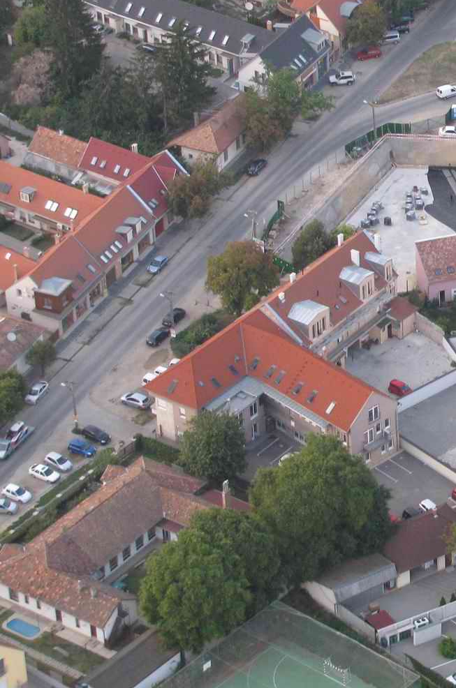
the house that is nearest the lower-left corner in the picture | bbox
[0,641,29,688]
